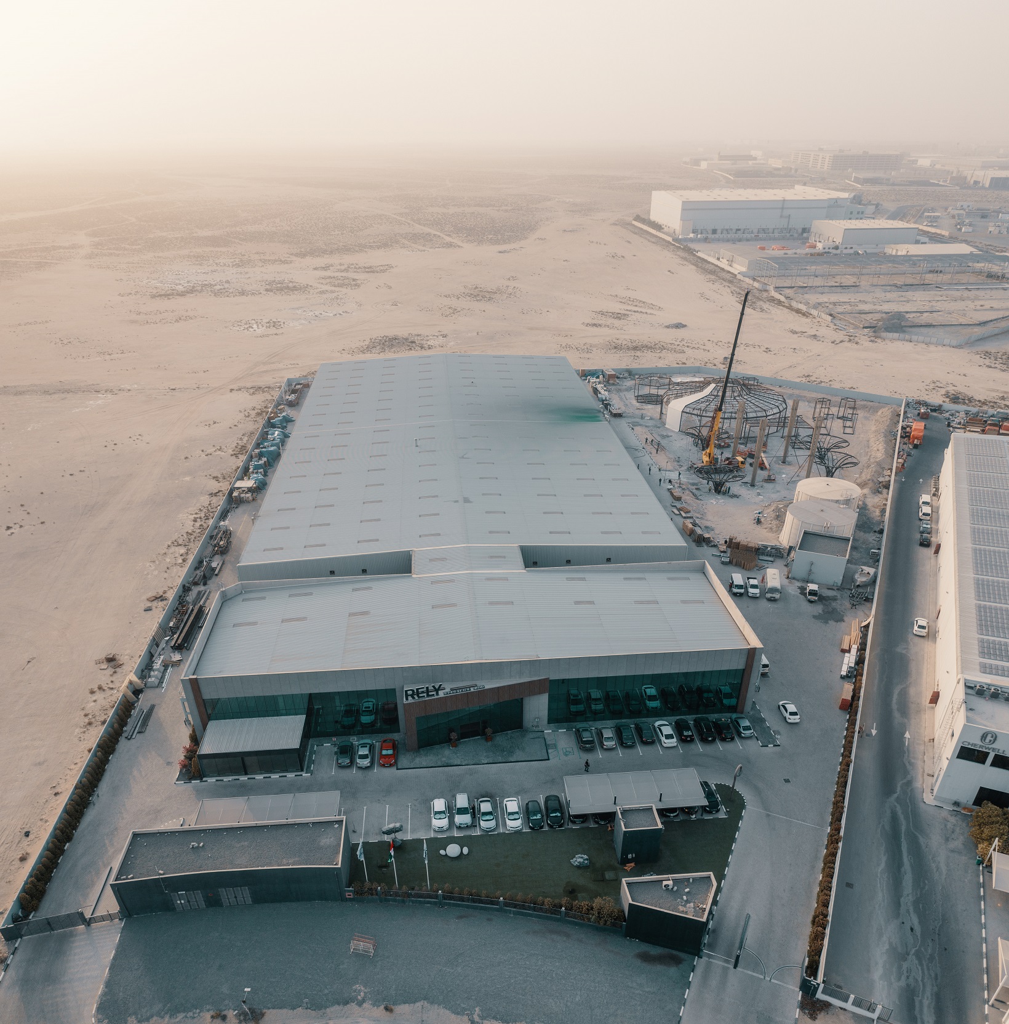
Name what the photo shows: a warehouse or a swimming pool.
warehouse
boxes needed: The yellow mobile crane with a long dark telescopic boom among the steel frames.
[696,291,751,470]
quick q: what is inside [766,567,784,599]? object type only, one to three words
vehicle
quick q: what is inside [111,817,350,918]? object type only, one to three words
building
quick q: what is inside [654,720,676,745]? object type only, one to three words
car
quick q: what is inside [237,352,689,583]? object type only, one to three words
warehouse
